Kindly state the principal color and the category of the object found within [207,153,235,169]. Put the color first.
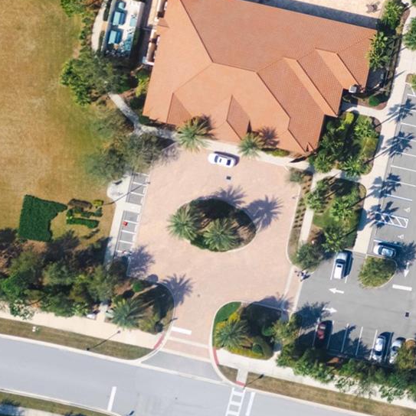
white car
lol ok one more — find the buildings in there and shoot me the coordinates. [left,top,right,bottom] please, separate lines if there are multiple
[142,0,378,158]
